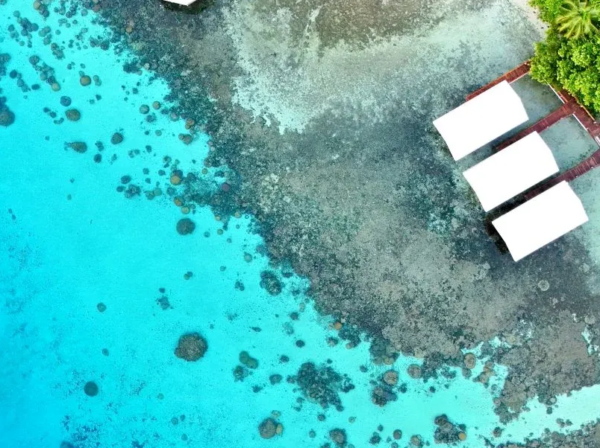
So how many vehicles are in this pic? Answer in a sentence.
The count of vehicles is 0.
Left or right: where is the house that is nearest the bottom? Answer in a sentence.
The house that is nearest the bottom is on the right side of the image.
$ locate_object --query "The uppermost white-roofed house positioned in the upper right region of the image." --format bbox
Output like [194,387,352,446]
[433,80,528,161]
